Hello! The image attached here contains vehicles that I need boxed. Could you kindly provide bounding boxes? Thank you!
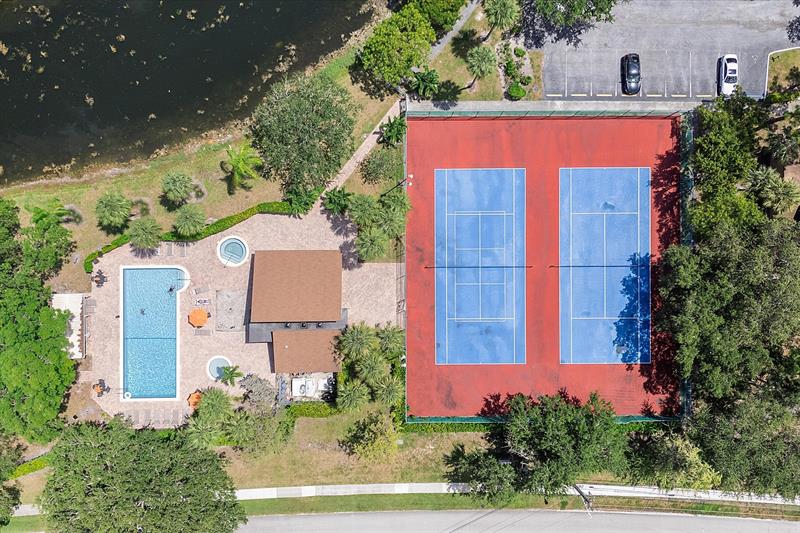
[623,53,642,95]
[718,55,739,96]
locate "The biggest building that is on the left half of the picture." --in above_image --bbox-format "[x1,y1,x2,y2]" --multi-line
[248,250,348,373]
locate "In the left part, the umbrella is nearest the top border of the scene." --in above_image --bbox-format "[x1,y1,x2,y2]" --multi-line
[189,308,209,327]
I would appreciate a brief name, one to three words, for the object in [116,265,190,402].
swimming pool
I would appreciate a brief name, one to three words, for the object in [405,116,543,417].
tennis court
